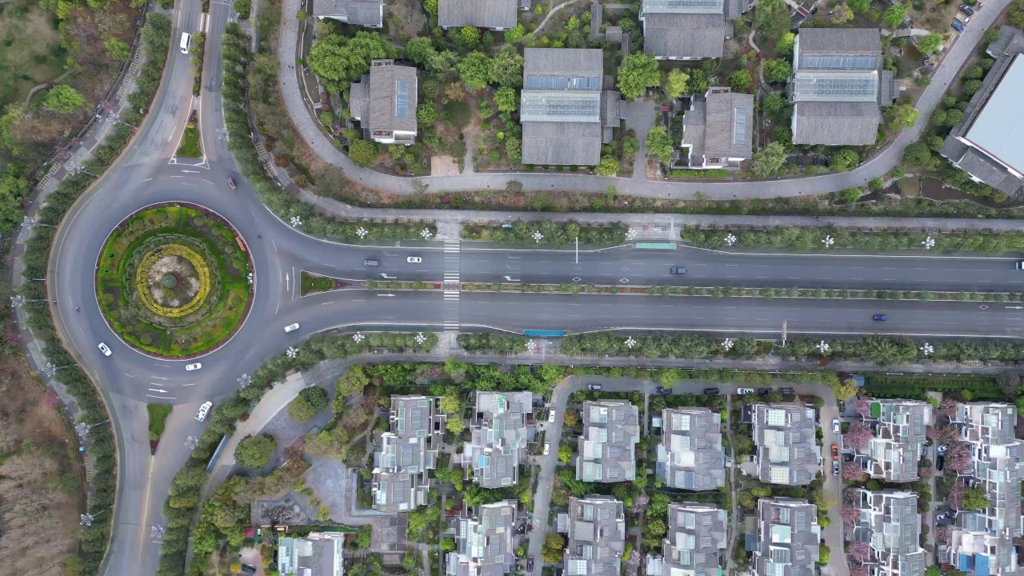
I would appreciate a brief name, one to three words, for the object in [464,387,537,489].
house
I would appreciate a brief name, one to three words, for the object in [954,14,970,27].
vehicle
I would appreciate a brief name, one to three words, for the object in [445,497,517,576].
house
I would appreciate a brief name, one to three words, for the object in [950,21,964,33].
vehicle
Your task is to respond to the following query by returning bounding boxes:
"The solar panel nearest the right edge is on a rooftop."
[803,54,880,67]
